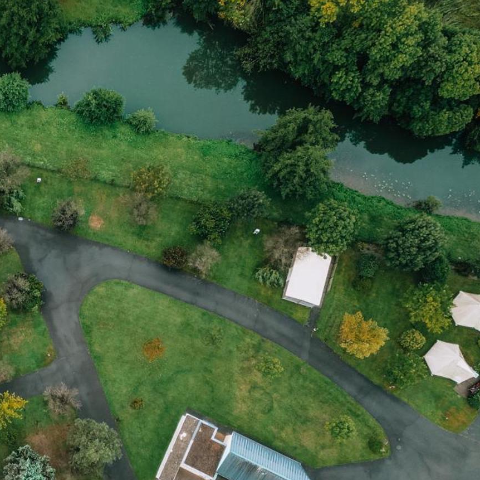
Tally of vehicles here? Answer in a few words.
0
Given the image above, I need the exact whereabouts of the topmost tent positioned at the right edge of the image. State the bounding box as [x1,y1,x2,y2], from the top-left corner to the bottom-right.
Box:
[448,291,480,331]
